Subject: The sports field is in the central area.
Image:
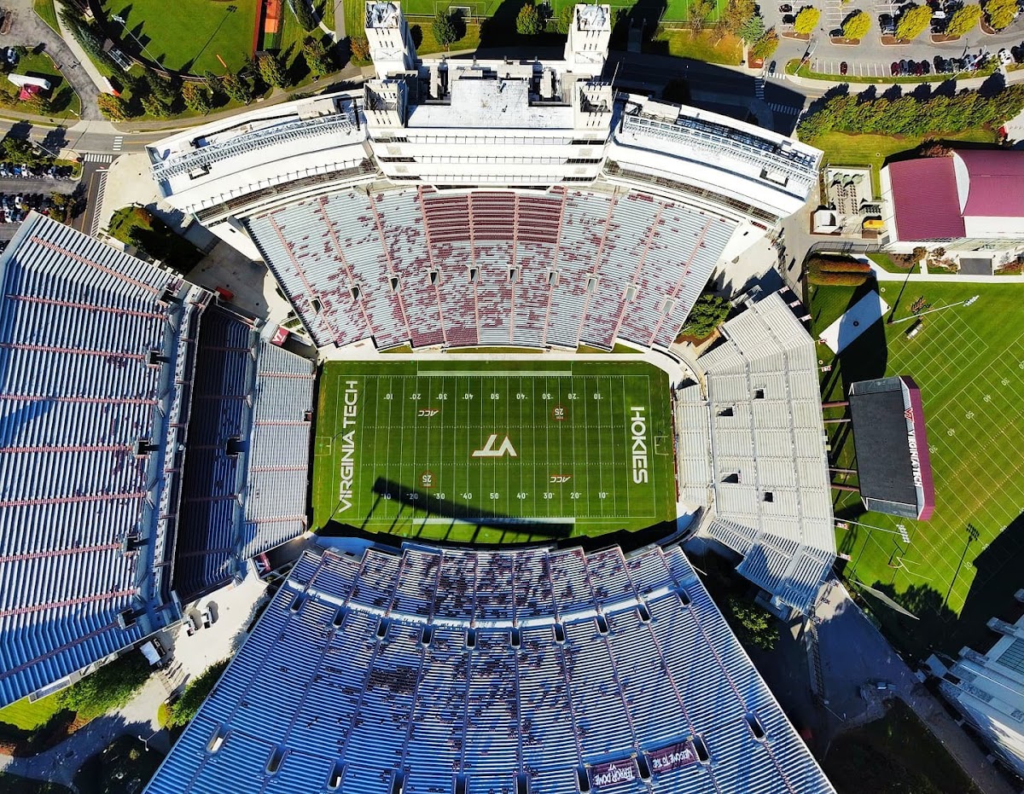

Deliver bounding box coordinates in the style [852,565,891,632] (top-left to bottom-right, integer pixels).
[312,359,677,555]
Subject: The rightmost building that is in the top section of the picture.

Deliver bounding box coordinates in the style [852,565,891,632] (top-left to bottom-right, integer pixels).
[941,150,1024,265]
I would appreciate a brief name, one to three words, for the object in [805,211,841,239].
shed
